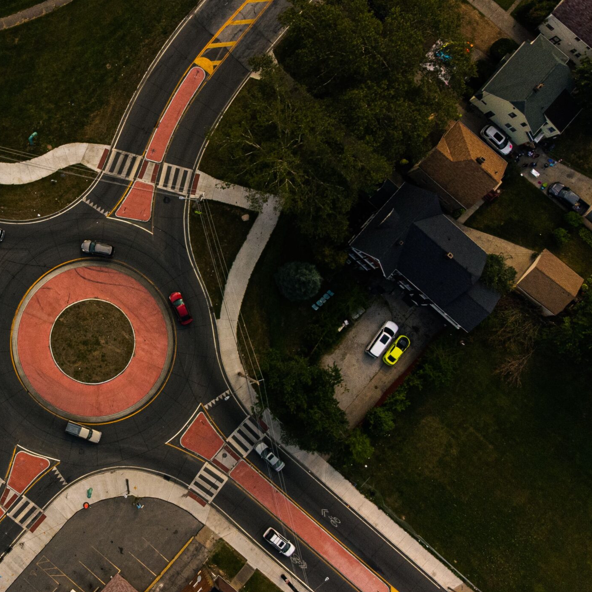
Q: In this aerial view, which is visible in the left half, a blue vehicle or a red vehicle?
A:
red vehicle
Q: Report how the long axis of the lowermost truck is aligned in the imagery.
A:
on a diagonal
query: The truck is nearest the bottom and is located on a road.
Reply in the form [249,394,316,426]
[259,524,297,558]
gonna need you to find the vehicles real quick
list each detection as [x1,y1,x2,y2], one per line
[0,228,7,245]
[64,418,103,443]
[545,181,588,217]
[364,319,399,360]
[476,121,512,158]
[169,291,195,328]
[259,524,297,558]
[253,440,289,475]
[81,238,116,259]
[380,333,411,368]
